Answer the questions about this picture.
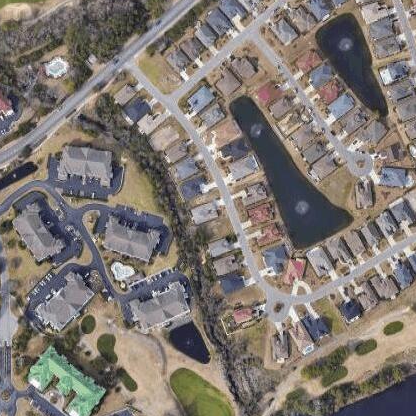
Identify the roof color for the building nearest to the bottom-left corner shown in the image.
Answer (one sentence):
From above, the roof of the building nearest to the bottom-left corner looks green.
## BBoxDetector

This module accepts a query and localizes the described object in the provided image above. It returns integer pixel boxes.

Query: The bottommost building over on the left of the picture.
[29,347,104,416]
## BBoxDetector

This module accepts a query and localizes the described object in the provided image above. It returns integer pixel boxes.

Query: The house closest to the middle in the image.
[191,201,220,226]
